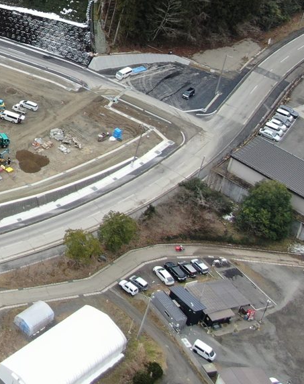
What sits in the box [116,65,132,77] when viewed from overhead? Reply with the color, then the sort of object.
white vehicle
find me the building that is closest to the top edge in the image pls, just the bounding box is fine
[229,136,304,214]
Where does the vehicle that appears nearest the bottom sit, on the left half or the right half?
right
